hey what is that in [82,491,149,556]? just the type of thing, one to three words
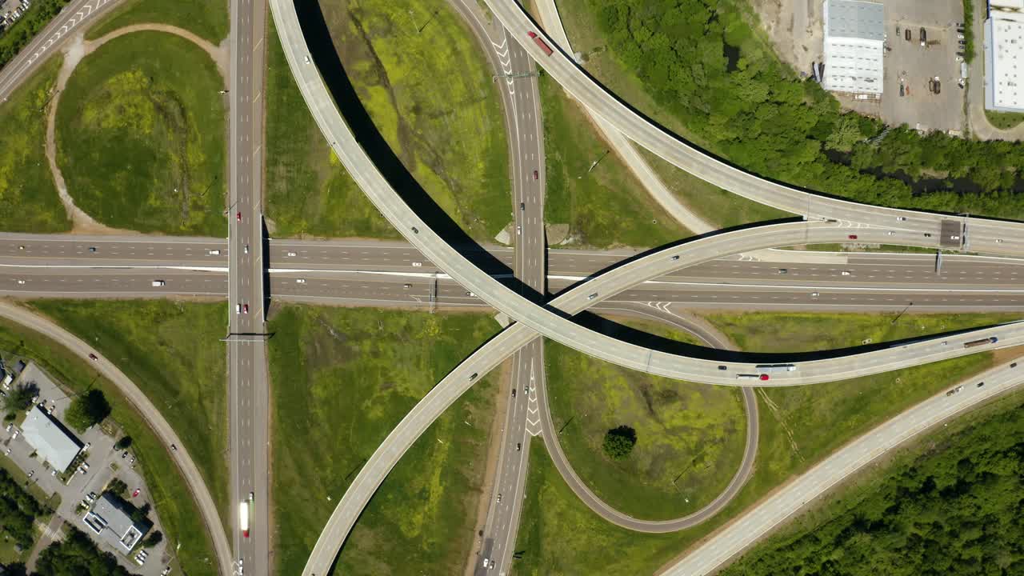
building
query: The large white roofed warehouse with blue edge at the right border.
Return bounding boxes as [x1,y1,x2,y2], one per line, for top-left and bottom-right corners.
[980,17,1024,112]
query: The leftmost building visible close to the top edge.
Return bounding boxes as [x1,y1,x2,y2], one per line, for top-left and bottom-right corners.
[821,0,884,95]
